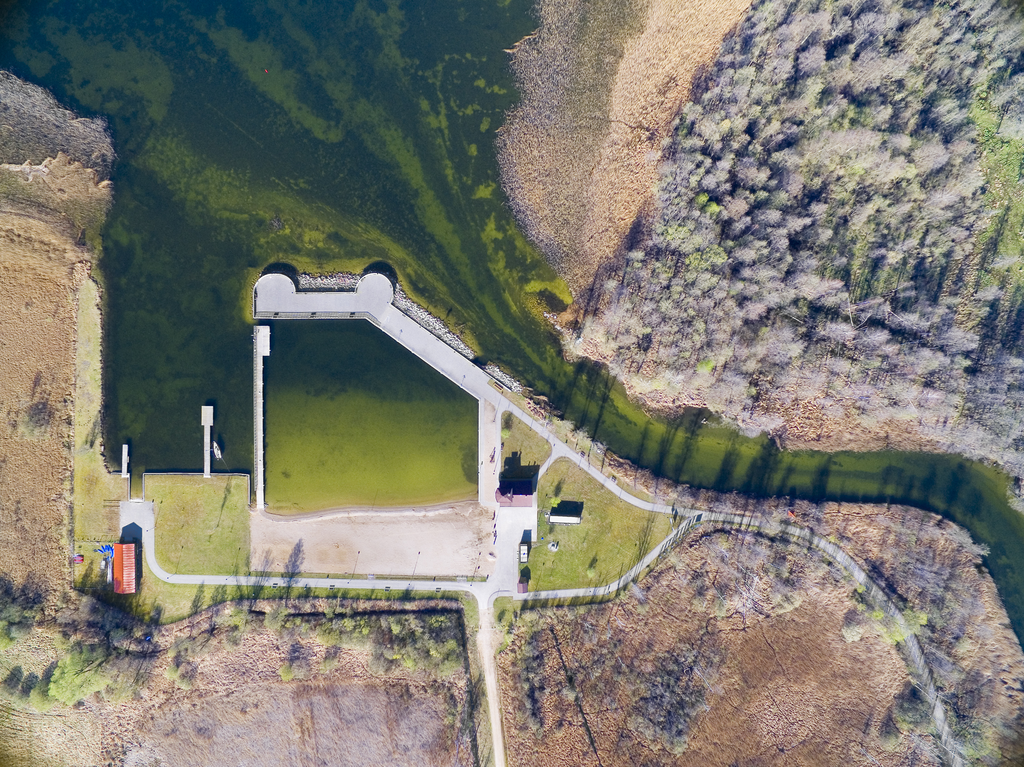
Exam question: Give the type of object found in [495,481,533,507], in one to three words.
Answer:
house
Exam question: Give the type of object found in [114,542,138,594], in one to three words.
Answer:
shed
